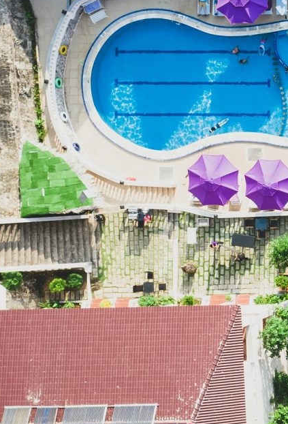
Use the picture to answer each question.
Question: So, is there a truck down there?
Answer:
No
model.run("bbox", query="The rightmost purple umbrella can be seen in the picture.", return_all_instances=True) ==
[248,160,288,209]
